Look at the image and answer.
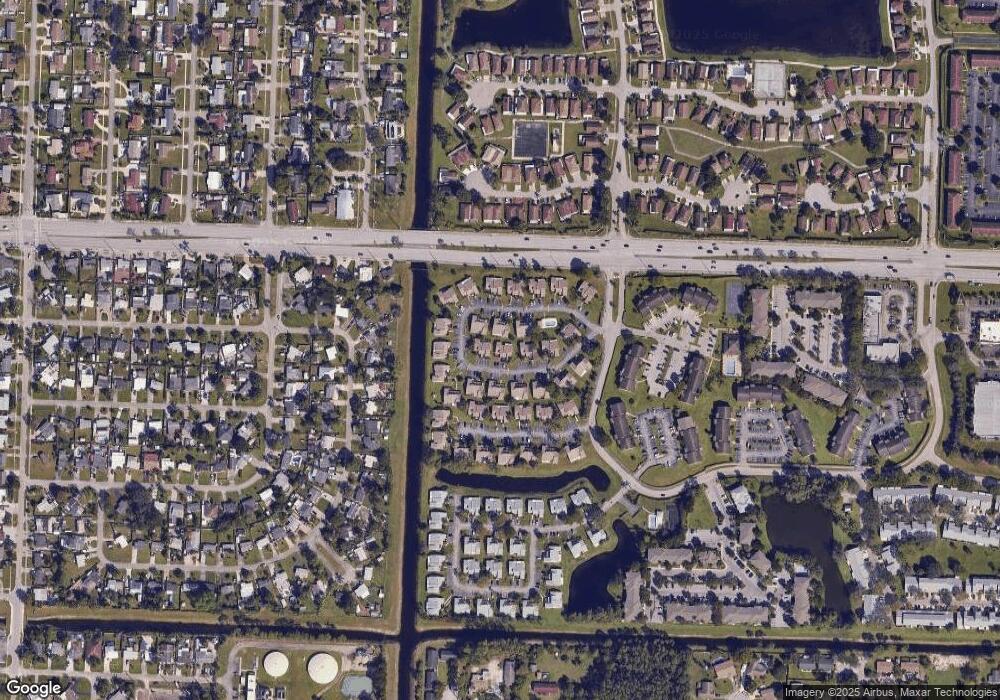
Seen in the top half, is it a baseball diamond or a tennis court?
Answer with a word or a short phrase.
tennis court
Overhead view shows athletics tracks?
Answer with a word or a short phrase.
No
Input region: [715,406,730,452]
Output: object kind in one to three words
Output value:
building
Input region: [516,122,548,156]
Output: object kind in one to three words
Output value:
sports court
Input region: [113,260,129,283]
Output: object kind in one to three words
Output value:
house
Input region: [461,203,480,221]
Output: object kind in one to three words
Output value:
house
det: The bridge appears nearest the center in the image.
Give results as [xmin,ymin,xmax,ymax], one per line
[408,228,433,263]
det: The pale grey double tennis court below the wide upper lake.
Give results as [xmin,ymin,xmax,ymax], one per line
[756,62,785,99]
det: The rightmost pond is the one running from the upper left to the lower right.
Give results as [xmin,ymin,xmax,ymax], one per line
[764,496,852,617]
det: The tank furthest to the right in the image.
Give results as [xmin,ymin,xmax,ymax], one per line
[308,653,338,684]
